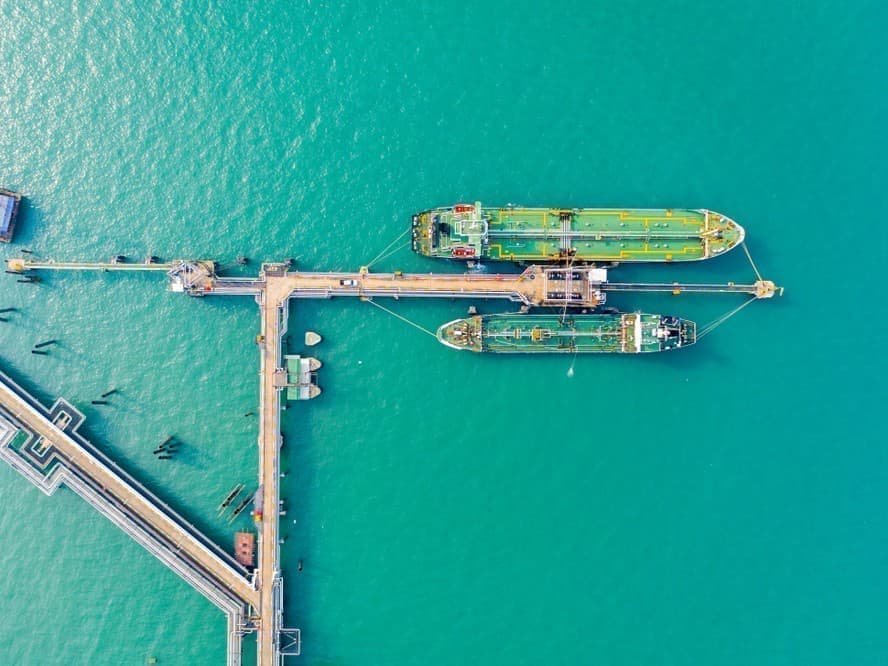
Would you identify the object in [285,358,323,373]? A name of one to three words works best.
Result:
boat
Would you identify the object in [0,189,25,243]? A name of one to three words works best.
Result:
vessel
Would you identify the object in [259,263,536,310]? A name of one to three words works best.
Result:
pier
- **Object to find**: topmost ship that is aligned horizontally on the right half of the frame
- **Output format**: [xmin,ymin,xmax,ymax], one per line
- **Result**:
[413,199,749,264]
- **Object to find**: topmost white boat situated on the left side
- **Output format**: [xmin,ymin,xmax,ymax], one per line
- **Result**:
[304,331,323,345]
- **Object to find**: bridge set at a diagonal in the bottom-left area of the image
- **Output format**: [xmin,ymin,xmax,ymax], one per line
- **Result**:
[0,371,263,666]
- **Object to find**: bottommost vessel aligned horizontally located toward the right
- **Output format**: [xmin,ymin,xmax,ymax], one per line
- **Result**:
[438,315,699,353]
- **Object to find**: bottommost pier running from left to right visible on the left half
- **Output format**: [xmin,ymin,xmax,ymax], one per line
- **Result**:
[273,369,321,389]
